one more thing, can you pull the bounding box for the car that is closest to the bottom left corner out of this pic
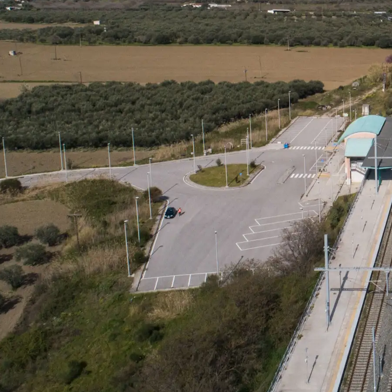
[163,208,176,220]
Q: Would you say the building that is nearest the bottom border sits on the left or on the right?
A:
right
